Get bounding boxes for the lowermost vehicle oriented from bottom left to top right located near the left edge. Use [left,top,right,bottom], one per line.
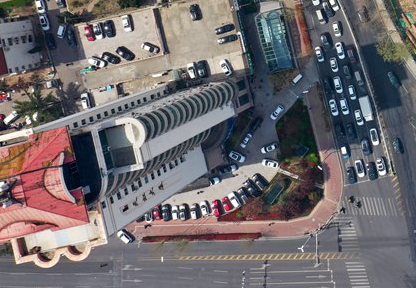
[1,109,19,125]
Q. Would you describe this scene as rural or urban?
urban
